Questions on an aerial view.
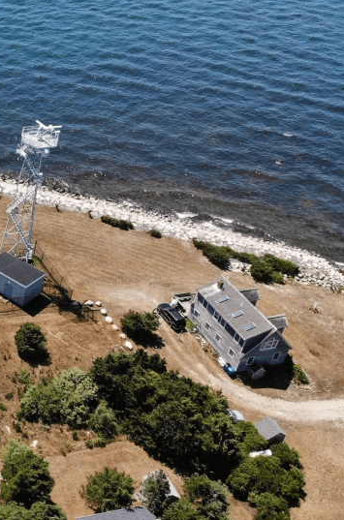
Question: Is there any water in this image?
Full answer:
Yes, the picture does contain water.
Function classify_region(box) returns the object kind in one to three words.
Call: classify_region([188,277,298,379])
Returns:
house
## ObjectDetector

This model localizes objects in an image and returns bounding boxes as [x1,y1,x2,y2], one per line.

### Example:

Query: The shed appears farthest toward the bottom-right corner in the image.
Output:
[251,417,288,447]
